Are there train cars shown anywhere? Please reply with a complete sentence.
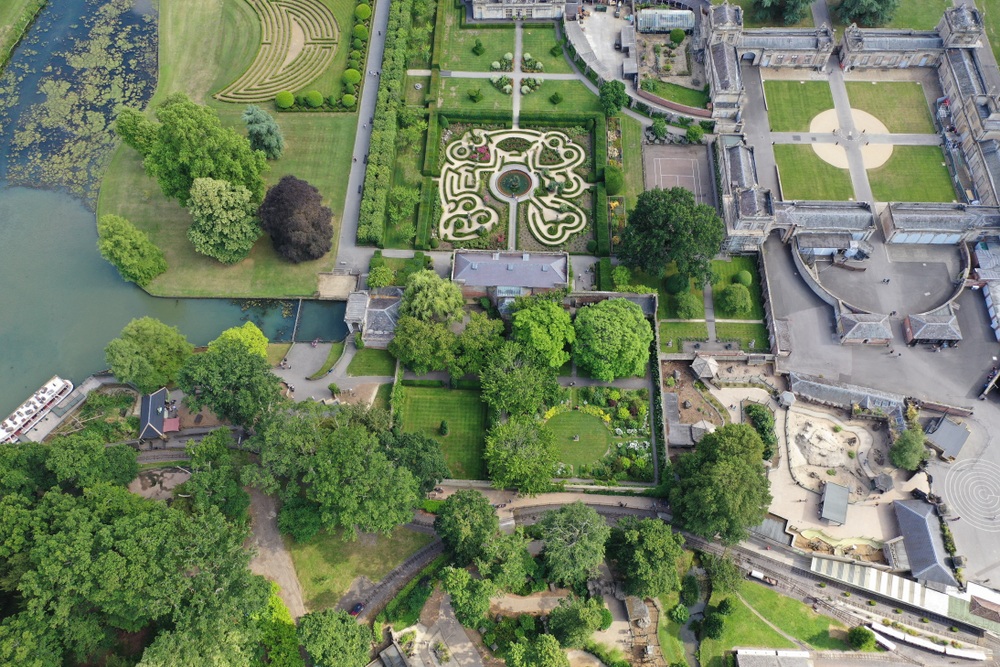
Yes, the frame does contain a train car.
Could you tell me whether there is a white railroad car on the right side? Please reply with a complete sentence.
Yes, you'll find a white railroad car on the right side.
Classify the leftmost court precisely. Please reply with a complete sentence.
The leftmost court can be classified as a tennis court.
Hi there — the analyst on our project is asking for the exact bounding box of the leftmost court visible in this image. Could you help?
[644,145,718,213]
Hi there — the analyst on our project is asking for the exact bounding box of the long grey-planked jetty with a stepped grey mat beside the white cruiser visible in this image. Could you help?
[26,377,102,440]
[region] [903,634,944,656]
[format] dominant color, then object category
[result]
white rail car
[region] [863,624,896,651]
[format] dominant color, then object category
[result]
white rail car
